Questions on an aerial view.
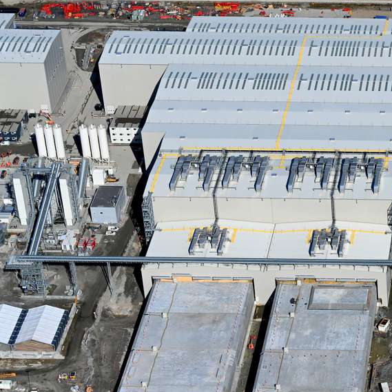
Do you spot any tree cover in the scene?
No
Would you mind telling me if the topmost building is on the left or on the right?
left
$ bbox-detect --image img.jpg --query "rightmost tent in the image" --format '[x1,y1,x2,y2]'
[15,308,64,351]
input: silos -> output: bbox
[31,122,45,165]
[41,122,56,159]
[95,122,110,167]
[85,122,100,167]
[75,122,90,165]
[51,122,66,165]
